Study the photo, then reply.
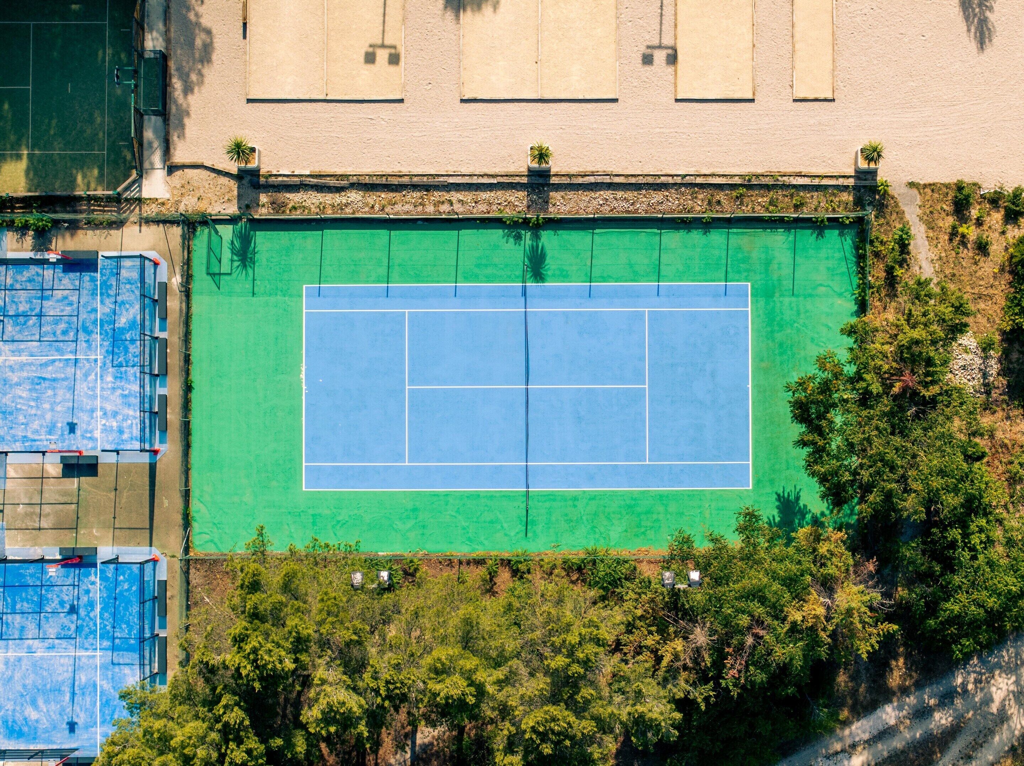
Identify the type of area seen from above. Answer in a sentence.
The picture captures a sports ground.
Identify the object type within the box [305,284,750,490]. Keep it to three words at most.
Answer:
tennis court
